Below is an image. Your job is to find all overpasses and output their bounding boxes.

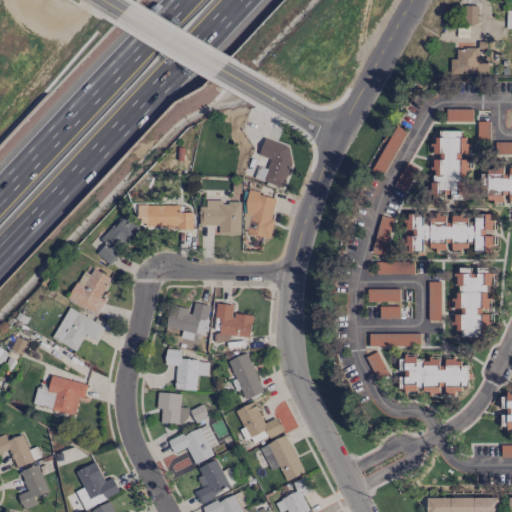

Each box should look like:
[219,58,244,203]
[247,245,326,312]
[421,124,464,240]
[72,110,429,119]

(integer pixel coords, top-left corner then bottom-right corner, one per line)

[67,0,292,118]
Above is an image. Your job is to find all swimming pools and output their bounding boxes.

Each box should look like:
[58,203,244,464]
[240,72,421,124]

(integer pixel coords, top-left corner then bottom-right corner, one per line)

[212,419,230,439]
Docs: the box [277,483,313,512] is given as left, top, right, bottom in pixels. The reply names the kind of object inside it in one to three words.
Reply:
house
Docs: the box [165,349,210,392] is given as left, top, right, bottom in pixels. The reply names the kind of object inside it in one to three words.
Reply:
house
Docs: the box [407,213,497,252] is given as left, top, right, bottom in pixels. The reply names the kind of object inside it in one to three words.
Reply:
building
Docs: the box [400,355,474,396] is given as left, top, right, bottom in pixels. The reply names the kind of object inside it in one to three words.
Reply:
building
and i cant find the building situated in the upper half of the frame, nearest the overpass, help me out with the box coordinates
[252,138,298,188]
